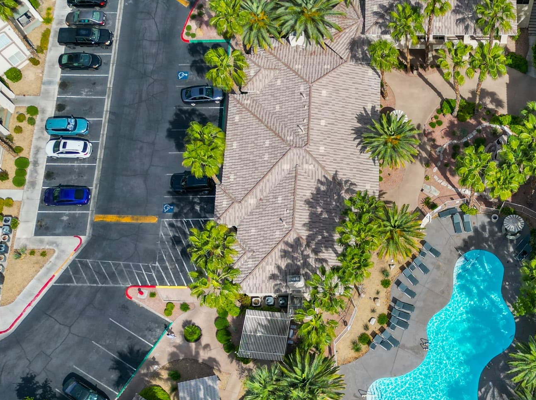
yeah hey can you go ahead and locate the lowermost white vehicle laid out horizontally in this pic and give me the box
[44,135,95,159]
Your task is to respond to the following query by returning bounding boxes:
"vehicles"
[58,373,110,400]
[56,50,104,72]
[172,174,216,194]
[66,7,108,27]
[44,184,93,206]
[179,84,225,106]
[44,135,95,159]
[43,115,91,138]
[54,23,116,47]
[67,0,108,10]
